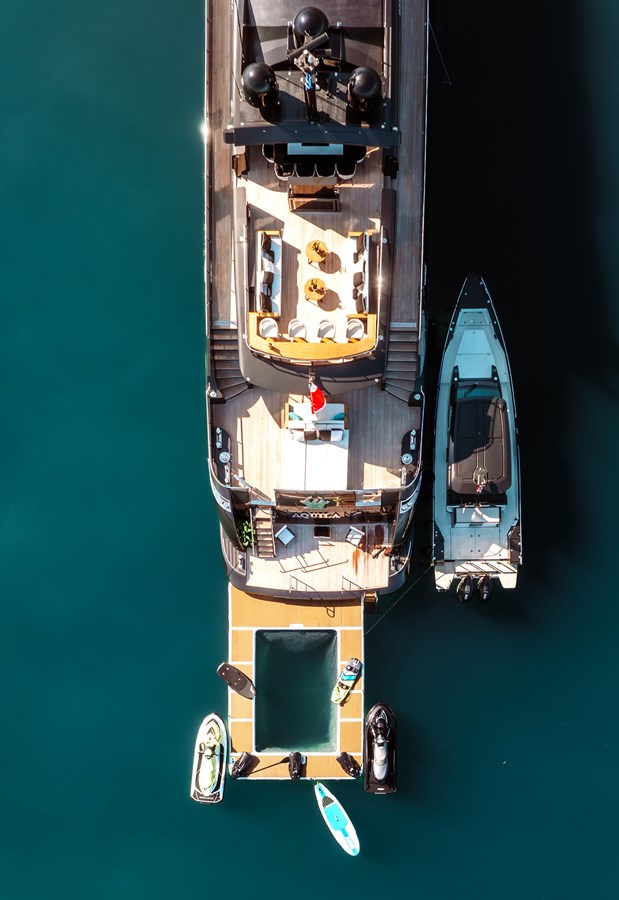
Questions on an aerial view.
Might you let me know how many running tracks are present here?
0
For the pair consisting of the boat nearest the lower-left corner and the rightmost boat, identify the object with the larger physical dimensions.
the rightmost boat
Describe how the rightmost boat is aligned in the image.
up and down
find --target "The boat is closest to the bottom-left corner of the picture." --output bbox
[190,712,227,804]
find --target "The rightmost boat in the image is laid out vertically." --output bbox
[432,273,522,602]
